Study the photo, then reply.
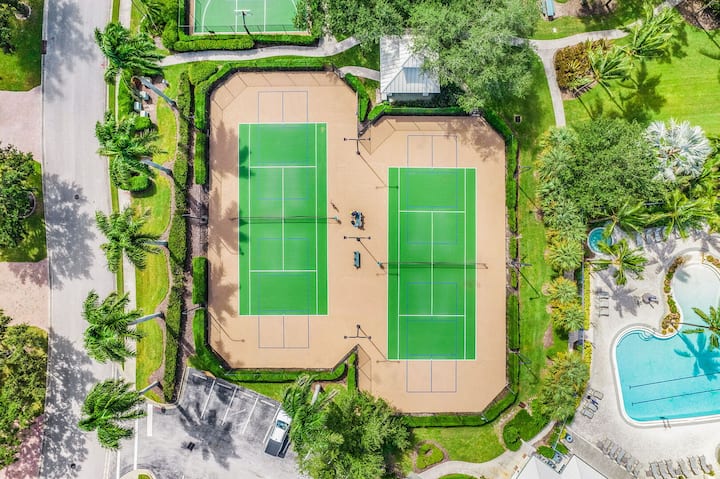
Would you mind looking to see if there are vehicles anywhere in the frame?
Yes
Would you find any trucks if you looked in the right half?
No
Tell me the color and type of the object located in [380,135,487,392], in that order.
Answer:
green tennis court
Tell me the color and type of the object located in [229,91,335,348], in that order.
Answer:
green tennis court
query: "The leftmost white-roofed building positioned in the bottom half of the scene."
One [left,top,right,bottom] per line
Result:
[505,449,560,479]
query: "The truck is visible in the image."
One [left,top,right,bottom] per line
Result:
[265,407,298,457]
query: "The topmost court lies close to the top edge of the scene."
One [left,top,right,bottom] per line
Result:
[188,0,315,36]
